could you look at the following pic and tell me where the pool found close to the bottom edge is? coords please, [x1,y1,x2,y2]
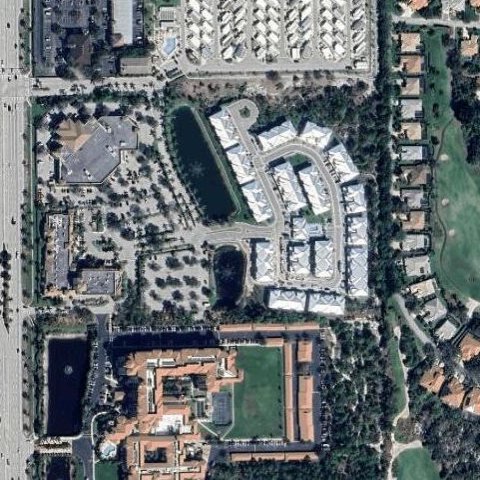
[100,441,116,457]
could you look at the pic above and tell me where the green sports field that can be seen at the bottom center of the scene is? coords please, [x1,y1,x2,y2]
[224,339,289,444]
